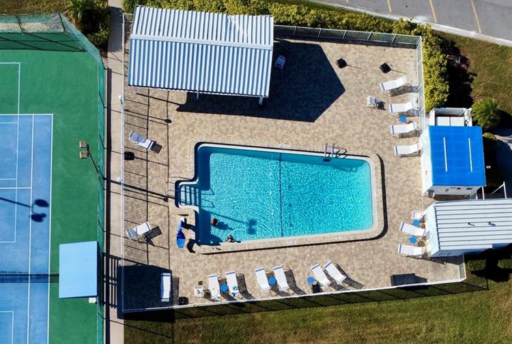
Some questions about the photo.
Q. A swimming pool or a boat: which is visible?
swimming pool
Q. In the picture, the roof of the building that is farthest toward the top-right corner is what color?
blue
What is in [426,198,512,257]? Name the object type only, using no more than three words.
building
